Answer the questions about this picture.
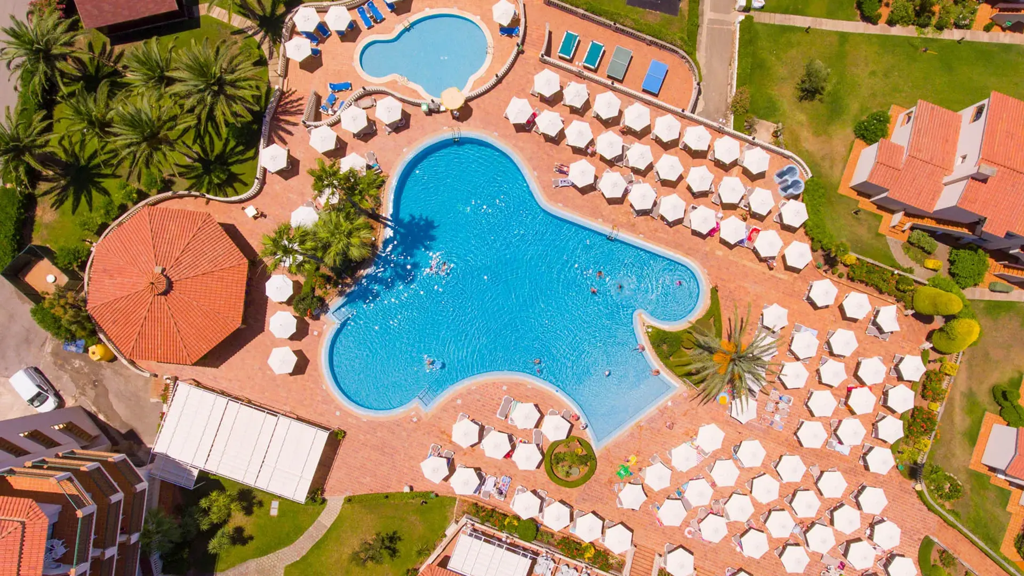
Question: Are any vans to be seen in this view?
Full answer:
Yes, looking at the shot, I can spot a van.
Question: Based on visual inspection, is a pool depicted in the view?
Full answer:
Yes, there's a pool down there.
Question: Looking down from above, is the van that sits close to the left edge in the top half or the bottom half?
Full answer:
It is in the bottom half that the van that sits close to the left edge appears.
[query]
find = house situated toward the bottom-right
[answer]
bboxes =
[982,425,1024,503]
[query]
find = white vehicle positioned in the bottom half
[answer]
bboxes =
[8,368,58,413]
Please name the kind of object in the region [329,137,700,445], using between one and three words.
swimming pool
